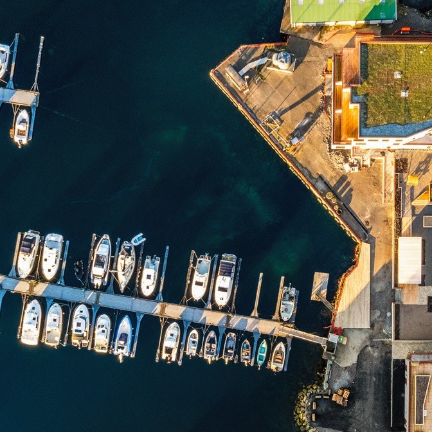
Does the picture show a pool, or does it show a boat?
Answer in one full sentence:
The image shows a boat.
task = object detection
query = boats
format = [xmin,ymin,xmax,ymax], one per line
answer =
[40,230,63,284]
[17,293,42,349]
[218,329,235,364]
[257,333,271,367]
[91,310,113,353]
[159,319,182,365]
[214,251,241,311]
[141,251,161,297]
[70,298,91,352]
[267,335,289,375]
[0,42,10,78]
[14,105,30,148]
[14,227,41,281]
[203,323,220,364]
[133,232,148,245]
[44,297,64,350]
[112,242,134,297]
[90,235,111,294]
[238,336,255,364]
[280,281,297,322]
[188,250,214,306]
[186,322,200,358]
[74,254,84,279]
[114,311,135,363]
